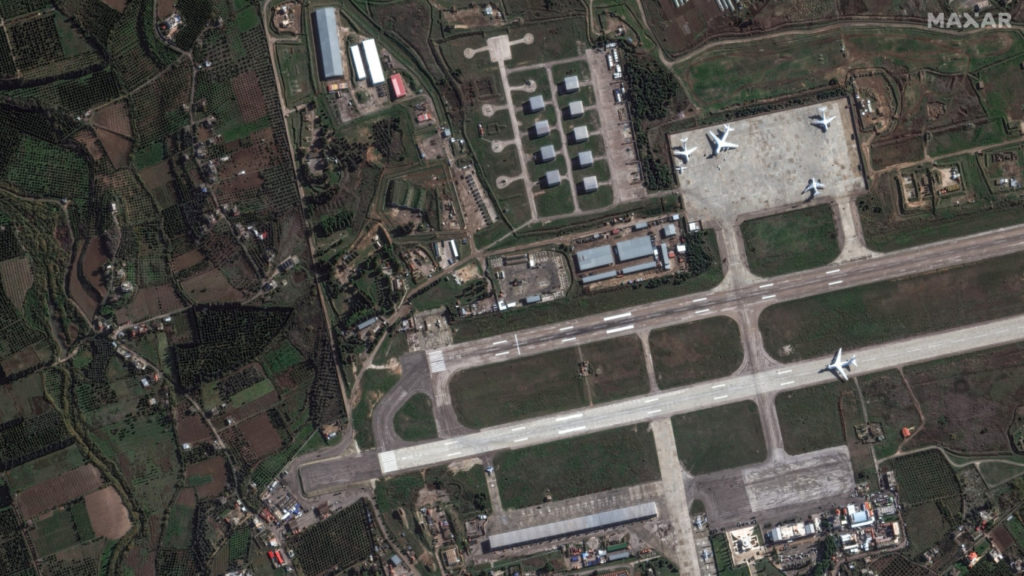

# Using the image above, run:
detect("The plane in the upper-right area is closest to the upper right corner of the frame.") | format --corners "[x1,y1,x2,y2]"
[811,104,837,132]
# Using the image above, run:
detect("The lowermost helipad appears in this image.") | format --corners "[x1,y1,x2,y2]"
[498,174,526,187]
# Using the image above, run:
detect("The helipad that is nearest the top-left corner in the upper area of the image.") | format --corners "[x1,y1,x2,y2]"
[464,46,489,58]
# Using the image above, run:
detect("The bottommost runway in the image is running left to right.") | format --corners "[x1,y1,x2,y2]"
[378,316,1024,476]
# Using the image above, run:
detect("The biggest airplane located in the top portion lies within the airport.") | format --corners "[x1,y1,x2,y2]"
[710,122,740,155]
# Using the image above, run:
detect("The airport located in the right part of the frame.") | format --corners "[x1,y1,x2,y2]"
[276,35,1024,576]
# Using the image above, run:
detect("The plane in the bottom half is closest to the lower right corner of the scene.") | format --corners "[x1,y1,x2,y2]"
[825,346,858,378]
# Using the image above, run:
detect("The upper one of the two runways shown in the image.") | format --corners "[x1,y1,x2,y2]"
[428,226,1024,375]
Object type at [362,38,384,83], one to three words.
building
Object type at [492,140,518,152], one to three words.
helipad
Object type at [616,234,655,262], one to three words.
hangar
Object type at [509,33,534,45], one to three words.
helipad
